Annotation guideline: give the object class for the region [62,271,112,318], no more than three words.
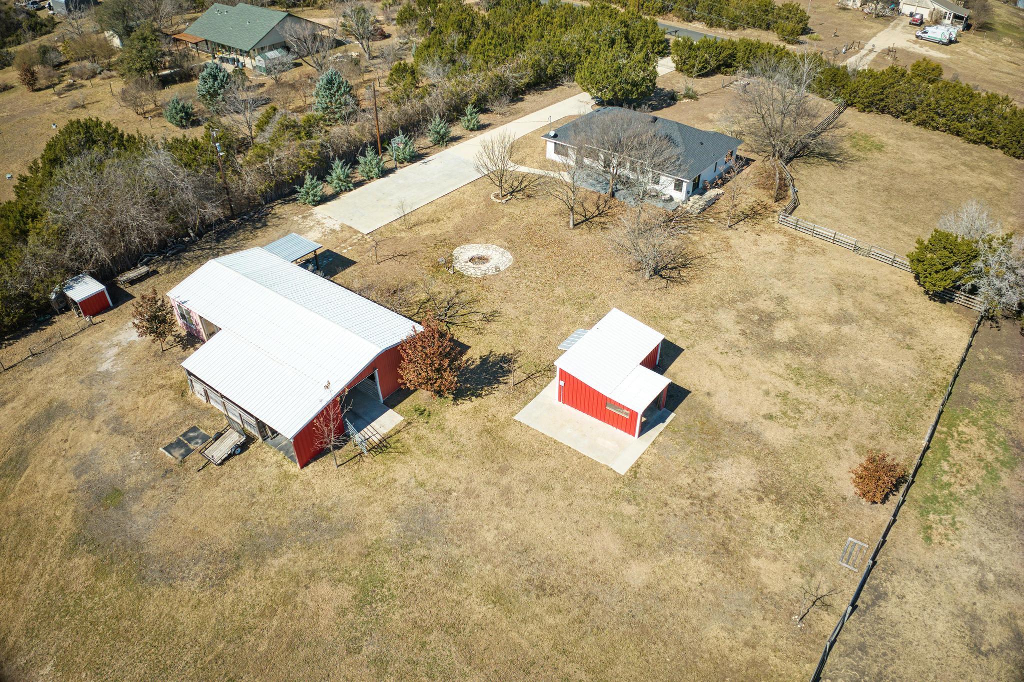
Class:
shed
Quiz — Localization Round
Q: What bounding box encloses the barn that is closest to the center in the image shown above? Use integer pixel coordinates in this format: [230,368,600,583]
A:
[555,308,670,439]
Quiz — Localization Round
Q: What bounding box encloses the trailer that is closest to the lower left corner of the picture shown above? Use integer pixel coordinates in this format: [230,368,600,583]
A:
[189,415,247,479]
